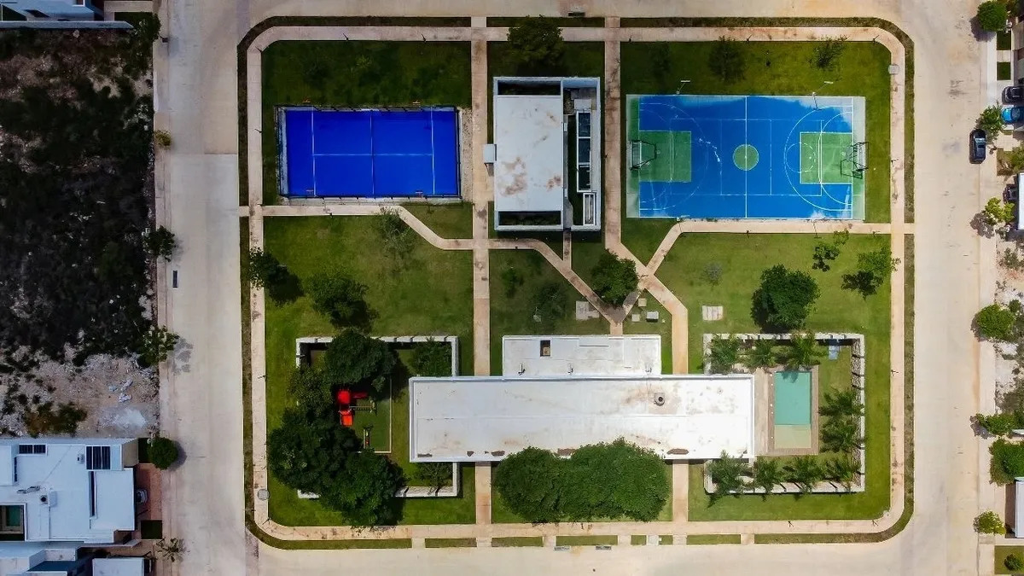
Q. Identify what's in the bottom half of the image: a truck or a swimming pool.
swimming pool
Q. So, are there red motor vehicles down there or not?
No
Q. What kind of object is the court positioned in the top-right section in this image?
basketball court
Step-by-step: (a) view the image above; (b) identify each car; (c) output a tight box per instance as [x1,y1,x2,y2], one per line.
[136,488,146,505]
[965,129,989,164]
[1003,86,1019,105]
[992,185,1016,202]
[1003,105,1019,123]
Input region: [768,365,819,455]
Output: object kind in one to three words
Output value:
swimming pool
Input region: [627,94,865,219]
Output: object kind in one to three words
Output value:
basketball court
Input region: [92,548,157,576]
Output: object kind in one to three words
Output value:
building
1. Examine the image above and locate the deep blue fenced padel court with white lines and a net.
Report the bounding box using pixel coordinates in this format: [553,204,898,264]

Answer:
[277,103,462,204]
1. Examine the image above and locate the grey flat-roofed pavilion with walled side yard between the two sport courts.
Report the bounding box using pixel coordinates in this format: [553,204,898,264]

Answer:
[483,77,600,232]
